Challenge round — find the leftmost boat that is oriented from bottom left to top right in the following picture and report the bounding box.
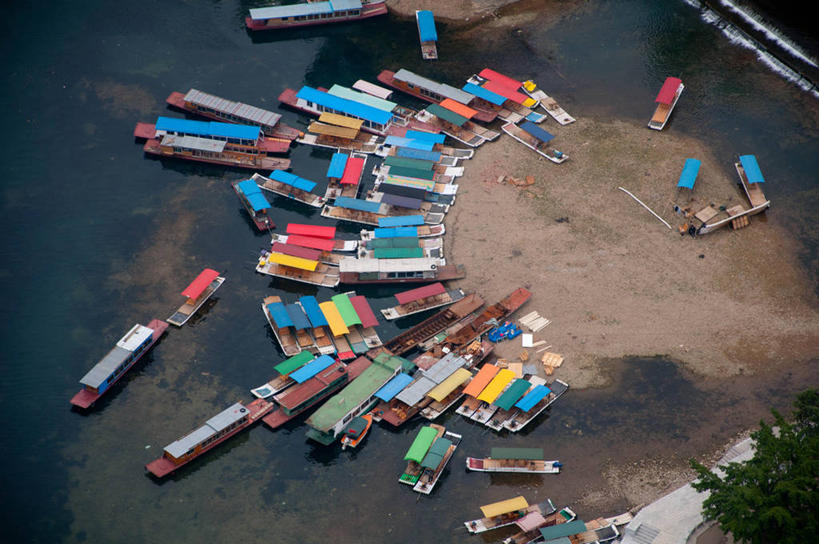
[71,318,169,408]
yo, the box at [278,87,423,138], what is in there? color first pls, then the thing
blue boat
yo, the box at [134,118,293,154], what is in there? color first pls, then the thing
blue boat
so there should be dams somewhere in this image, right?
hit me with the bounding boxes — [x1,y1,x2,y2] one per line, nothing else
[666,0,819,107]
